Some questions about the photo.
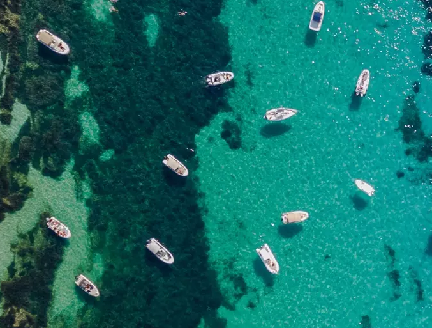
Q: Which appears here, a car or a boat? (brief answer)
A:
boat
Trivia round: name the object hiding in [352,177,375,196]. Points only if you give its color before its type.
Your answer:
white boat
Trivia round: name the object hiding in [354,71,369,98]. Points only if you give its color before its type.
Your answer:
white boat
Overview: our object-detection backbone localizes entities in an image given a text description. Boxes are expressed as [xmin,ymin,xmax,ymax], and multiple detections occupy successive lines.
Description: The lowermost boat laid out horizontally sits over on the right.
[280,211,309,224]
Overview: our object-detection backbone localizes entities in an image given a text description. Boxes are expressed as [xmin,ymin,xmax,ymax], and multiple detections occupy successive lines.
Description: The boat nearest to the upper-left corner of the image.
[35,31,69,54]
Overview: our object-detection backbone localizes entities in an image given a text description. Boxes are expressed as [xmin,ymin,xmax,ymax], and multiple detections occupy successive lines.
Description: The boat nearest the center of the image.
[162,157,188,177]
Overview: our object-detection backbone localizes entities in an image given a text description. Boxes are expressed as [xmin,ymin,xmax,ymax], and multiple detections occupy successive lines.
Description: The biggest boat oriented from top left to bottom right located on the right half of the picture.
[255,242,279,273]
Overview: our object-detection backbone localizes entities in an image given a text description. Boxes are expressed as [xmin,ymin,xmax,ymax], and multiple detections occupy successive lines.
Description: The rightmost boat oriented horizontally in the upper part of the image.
[263,108,298,122]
